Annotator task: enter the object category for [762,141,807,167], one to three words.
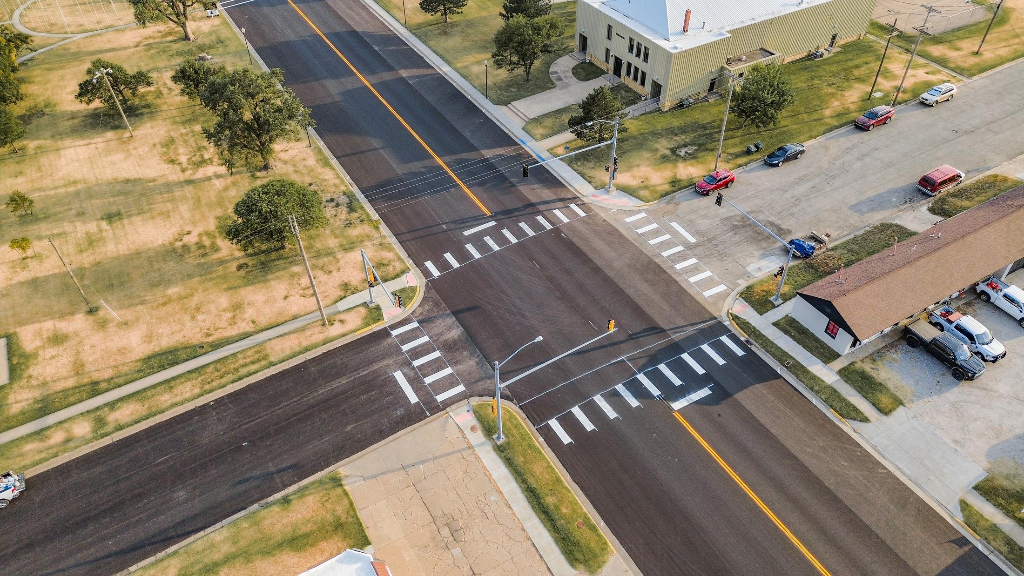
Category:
car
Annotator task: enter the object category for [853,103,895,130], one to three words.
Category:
car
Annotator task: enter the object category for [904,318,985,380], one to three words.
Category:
truck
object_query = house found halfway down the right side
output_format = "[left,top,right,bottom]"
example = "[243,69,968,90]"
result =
[791,173,1024,354]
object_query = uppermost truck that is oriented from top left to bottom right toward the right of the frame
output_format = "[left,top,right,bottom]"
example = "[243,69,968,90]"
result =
[973,275,1024,327]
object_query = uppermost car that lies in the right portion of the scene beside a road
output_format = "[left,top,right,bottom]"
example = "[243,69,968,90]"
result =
[917,80,956,106]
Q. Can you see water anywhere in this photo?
No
